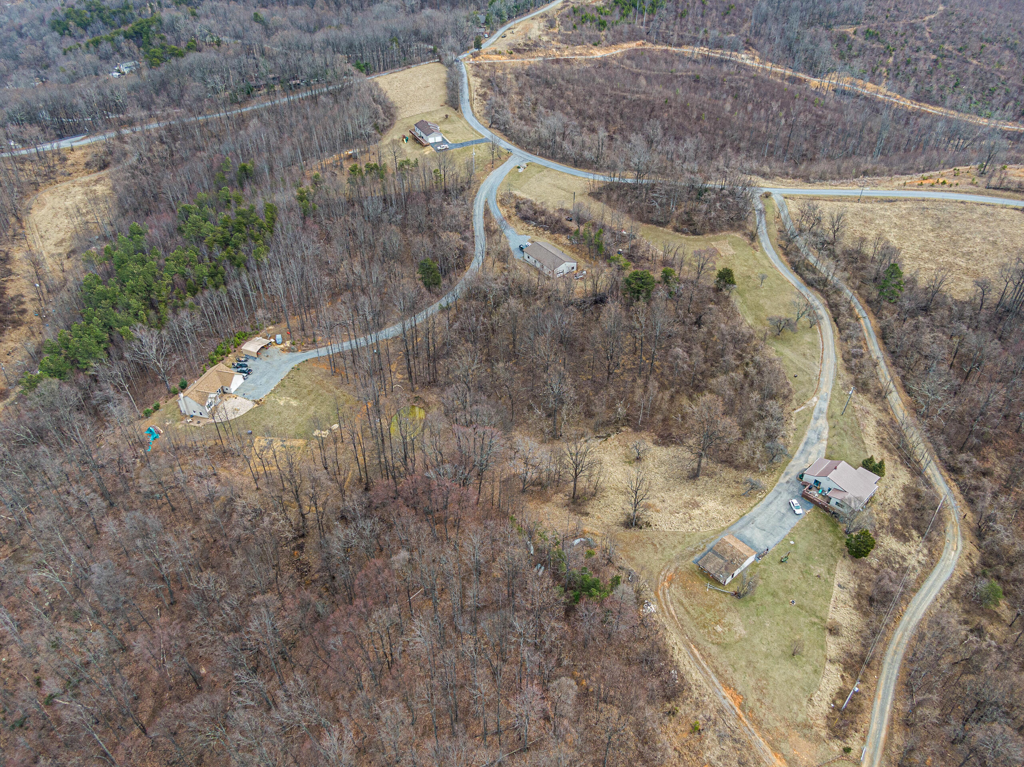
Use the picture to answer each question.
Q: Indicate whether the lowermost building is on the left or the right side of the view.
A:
right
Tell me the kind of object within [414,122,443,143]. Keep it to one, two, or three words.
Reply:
house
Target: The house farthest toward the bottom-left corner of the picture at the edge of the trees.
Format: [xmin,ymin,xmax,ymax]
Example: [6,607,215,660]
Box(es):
[173,361,244,419]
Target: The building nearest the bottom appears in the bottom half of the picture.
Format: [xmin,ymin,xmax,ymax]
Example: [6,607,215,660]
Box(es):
[698,533,758,588]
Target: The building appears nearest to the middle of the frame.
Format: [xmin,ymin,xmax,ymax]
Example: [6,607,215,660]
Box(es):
[523,242,578,278]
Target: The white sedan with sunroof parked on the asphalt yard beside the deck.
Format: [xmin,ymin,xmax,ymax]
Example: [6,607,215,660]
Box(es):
[788,497,805,514]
